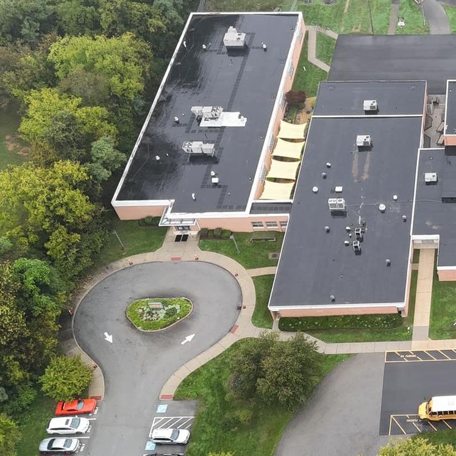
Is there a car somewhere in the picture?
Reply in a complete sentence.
Yes, there is a car in the image.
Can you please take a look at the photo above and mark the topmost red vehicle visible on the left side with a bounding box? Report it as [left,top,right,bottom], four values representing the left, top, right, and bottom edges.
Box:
[54,397,98,416]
